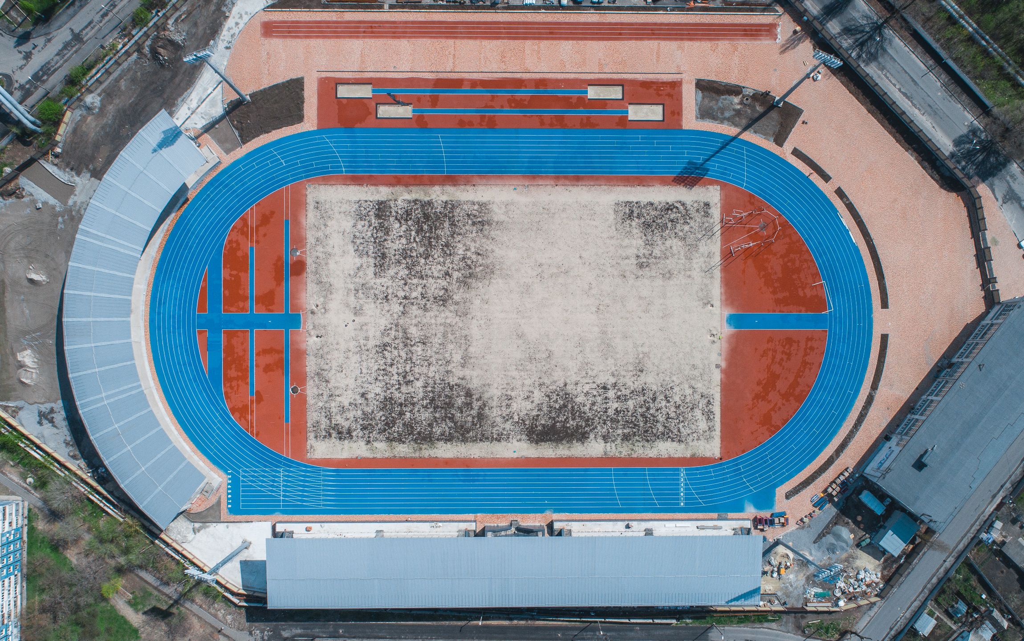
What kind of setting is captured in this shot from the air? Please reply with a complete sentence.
What you see here is a sports ground.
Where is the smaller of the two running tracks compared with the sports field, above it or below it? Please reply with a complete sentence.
The smaller of the two running tracks appears above the sports field in the picture.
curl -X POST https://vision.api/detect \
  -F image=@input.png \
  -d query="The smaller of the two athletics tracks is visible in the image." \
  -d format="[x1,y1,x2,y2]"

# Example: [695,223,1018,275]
[262,20,782,43]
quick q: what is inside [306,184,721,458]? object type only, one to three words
sports field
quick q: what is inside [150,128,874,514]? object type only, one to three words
running track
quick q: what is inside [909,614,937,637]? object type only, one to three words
shed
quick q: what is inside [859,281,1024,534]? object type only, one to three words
building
